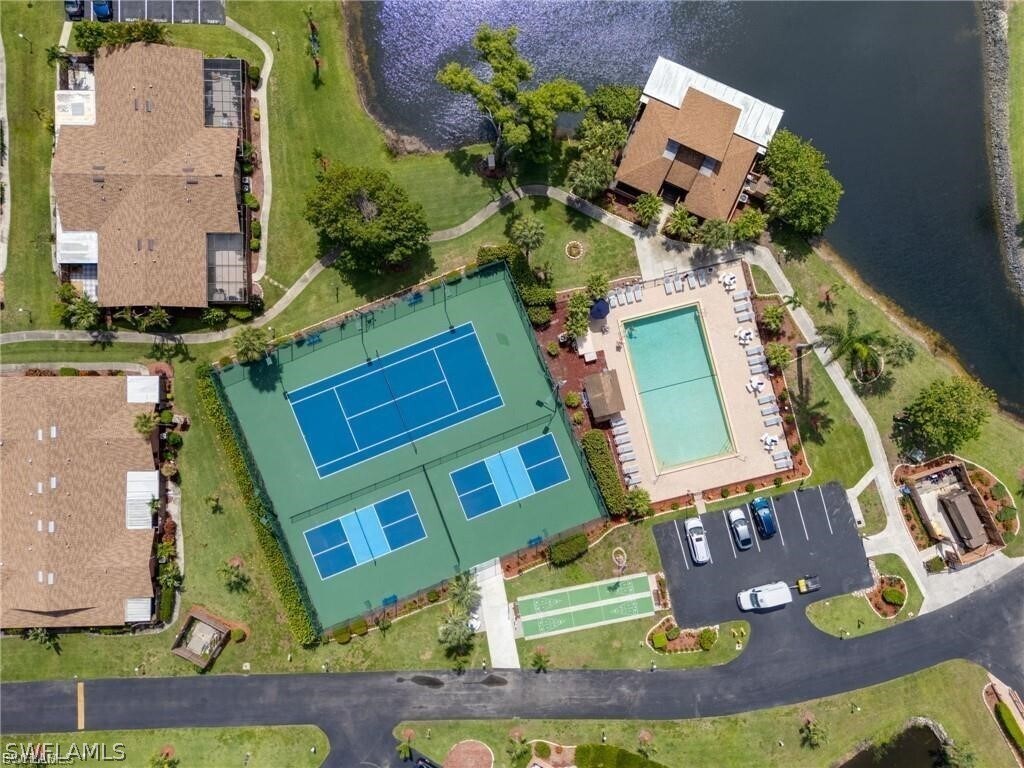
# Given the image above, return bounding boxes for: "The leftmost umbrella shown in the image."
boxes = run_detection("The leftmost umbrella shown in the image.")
[590,300,609,319]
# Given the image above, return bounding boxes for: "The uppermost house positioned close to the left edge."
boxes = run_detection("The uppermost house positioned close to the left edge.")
[50,43,254,307]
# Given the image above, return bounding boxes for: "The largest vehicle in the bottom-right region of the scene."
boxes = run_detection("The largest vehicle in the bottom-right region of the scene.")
[735,583,793,612]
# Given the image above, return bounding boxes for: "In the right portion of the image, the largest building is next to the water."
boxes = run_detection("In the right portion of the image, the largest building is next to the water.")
[614,57,782,224]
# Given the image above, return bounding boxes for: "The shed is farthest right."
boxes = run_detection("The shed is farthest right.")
[932,491,989,549]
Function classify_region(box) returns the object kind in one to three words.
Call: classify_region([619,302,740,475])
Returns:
swimming pool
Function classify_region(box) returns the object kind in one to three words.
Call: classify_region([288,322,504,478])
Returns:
tennis court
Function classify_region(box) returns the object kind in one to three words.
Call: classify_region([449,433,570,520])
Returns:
sports court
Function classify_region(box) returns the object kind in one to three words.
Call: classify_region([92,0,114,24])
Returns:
car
